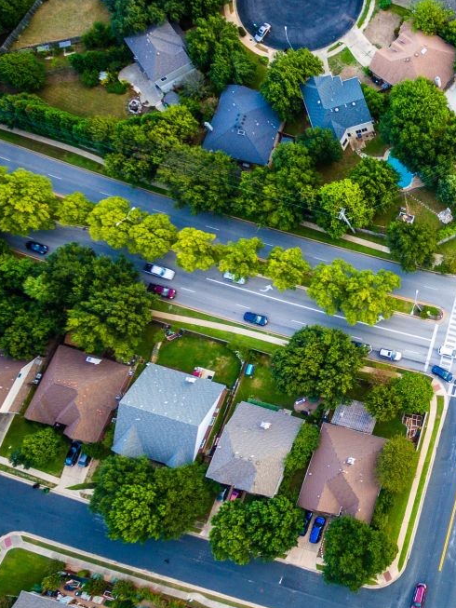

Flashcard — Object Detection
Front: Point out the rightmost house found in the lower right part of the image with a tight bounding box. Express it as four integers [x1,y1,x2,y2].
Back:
[298,423,390,519]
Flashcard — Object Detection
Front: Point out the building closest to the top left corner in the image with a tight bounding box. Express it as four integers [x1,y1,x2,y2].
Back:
[124,21,195,91]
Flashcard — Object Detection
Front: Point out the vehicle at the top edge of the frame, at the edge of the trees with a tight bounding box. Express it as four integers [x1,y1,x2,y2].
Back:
[254,22,271,42]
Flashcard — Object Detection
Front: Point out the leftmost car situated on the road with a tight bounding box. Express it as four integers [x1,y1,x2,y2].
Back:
[26,240,50,254]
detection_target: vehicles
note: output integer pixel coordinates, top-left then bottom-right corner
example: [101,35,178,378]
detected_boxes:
[26,240,50,254]
[254,22,271,42]
[147,282,176,298]
[308,516,326,543]
[144,261,173,278]
[227,486,242,506]
[411,584,426,608]
[437,346,456,360]
[63,439,83,466]
[214,482,230,507]
[299,509,314,536]
[429,363,454,381]
[243,311,269,326]
[76,445,94,471]
[377,347,402,361]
